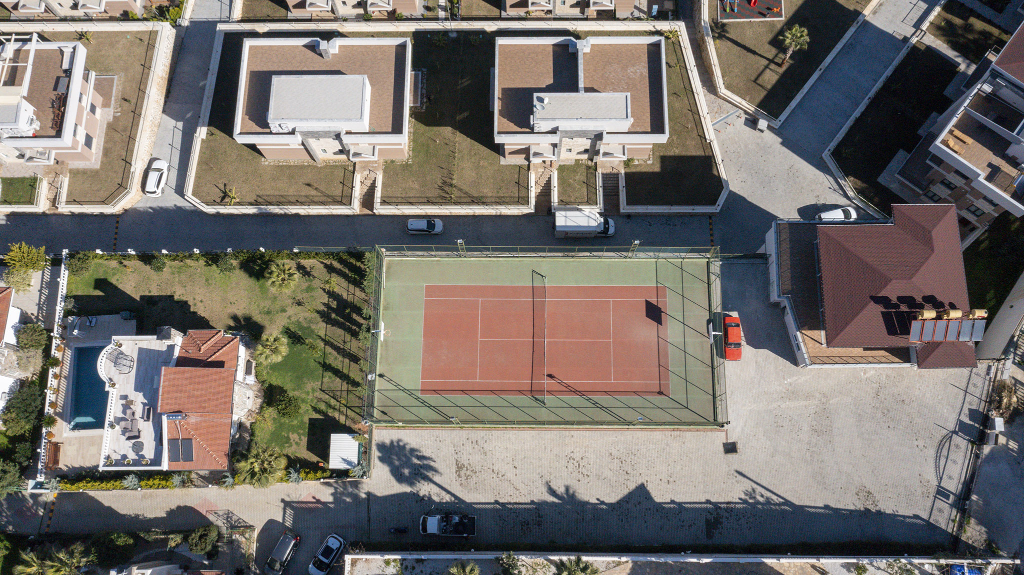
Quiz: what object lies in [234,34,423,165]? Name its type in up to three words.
house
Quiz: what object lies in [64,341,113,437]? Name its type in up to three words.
swimming pool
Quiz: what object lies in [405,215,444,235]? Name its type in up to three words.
car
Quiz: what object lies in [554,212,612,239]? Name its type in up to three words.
truck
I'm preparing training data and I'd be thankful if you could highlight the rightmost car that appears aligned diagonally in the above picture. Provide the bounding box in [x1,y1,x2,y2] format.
[306,530,347,575]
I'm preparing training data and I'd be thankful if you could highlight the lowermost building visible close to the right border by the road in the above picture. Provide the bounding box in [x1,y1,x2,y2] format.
[750,203,976,373]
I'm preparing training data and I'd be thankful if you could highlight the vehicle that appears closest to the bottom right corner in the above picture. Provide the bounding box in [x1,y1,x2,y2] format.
[725,315,747,361]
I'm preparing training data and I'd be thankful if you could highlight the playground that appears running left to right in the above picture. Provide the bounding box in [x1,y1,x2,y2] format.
[718,0,785,20]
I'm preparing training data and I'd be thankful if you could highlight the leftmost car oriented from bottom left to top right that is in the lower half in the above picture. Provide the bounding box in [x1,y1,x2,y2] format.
[260,527,303,575]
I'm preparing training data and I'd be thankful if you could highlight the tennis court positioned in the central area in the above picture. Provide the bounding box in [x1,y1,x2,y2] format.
[371,255,718,428]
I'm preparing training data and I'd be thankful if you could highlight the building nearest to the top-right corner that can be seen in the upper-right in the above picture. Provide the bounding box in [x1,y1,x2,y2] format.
[876,27,1024,263]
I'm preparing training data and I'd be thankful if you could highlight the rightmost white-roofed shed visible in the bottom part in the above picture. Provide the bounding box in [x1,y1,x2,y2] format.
[329,434,362,469]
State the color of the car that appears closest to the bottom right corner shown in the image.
red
